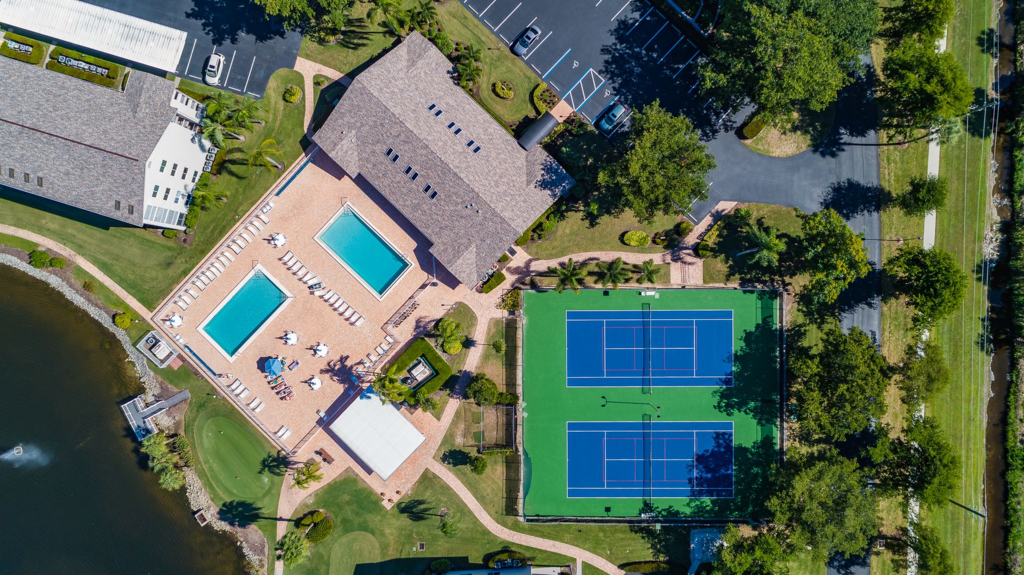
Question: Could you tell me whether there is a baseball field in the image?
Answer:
No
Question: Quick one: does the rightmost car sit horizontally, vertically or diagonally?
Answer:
diagonally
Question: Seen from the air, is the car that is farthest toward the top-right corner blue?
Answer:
Yes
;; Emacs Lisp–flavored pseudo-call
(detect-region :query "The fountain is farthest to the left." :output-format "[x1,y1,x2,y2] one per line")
[0,442,51,474]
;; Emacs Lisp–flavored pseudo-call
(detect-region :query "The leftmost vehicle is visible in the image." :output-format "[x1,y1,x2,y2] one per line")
[204,53,224,86]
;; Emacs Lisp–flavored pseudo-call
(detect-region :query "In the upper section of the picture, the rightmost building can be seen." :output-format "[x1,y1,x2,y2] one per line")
[313,30,574,289]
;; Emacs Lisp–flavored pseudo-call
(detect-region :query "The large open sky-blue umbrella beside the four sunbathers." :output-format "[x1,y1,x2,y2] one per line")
[265,358,282,376]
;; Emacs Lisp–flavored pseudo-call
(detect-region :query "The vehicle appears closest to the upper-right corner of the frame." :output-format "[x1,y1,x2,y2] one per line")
[599,102,629,132]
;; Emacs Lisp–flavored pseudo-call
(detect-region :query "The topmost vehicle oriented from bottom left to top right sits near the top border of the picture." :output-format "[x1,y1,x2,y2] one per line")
[513,24,541,56]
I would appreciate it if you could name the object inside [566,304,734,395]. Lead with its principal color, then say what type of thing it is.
blue tennis court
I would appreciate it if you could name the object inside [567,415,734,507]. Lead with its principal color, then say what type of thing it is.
blue tennis court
